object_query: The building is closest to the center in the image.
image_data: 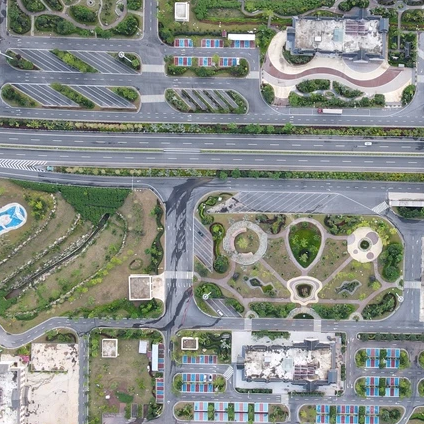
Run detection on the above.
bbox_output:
[129,274,153,300]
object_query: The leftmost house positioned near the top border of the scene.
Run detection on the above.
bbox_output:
[175,2,190,22]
